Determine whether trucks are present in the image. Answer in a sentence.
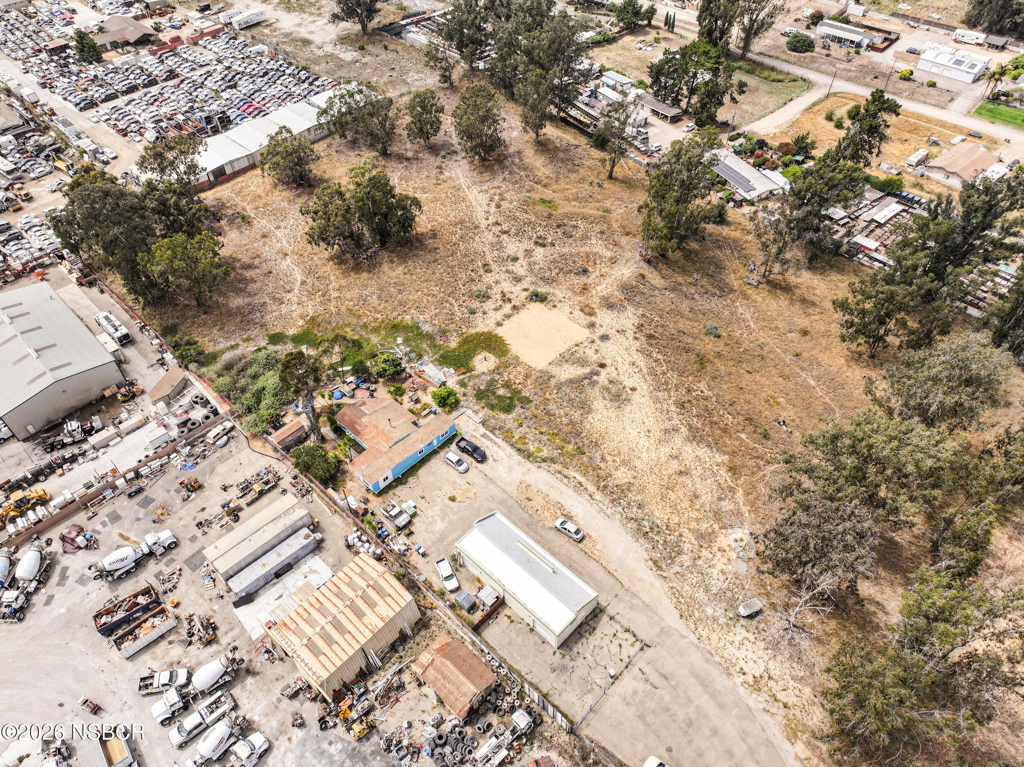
Yes, there is a truck in the image.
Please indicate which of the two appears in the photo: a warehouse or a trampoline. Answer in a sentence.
It is a warehouse that can be seen here.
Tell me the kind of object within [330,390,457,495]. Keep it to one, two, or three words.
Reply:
house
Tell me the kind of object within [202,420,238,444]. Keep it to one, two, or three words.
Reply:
car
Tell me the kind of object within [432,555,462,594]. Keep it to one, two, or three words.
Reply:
truck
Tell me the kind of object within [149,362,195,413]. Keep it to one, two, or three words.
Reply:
shed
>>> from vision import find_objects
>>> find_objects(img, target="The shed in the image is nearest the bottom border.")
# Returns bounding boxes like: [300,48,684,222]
[408,628,501,726]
